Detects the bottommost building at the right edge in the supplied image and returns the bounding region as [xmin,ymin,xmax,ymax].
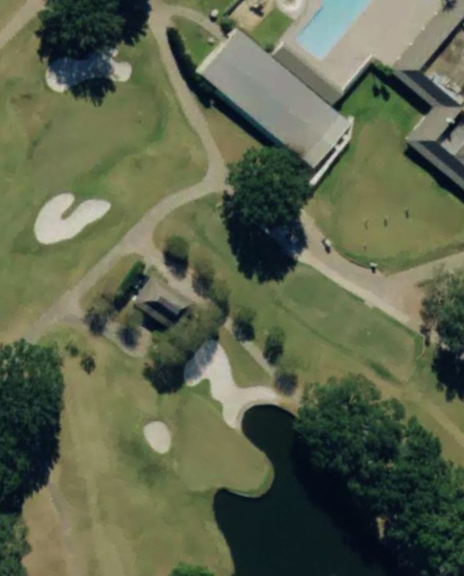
[405,105,464,192]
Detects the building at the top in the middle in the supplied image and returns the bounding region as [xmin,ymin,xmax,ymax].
[195,28,357,190]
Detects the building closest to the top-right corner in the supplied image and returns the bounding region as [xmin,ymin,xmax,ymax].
[394,69,464,110]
